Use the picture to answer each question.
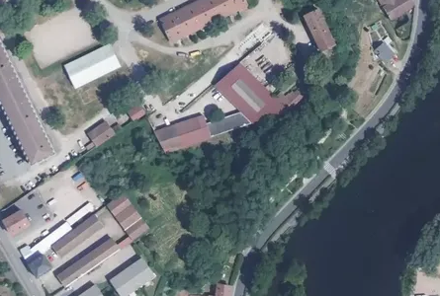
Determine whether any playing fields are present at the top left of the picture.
Yes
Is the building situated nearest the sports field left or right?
left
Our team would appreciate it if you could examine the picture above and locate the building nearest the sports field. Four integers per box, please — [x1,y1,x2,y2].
[63,42,120,89]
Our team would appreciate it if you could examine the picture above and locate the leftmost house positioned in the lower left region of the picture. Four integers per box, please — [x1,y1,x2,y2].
[0,209,30,237]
